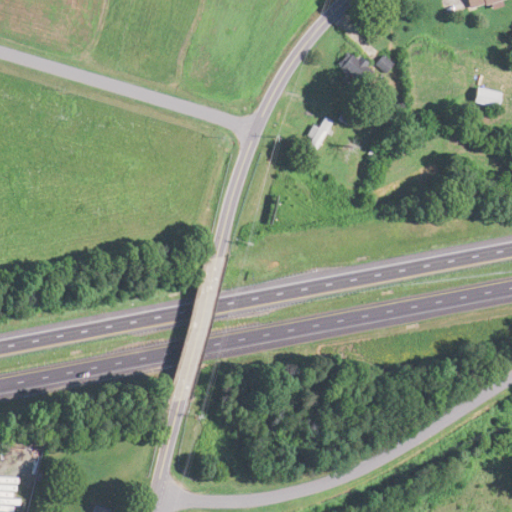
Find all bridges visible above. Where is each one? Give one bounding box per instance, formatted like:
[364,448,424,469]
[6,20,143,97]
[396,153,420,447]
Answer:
[168,256,226,403]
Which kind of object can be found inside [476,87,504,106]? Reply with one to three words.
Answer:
barn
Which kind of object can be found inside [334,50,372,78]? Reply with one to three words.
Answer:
house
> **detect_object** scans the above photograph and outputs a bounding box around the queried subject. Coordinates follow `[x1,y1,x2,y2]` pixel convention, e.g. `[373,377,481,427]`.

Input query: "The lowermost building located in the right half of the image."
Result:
[308,118,333,148]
